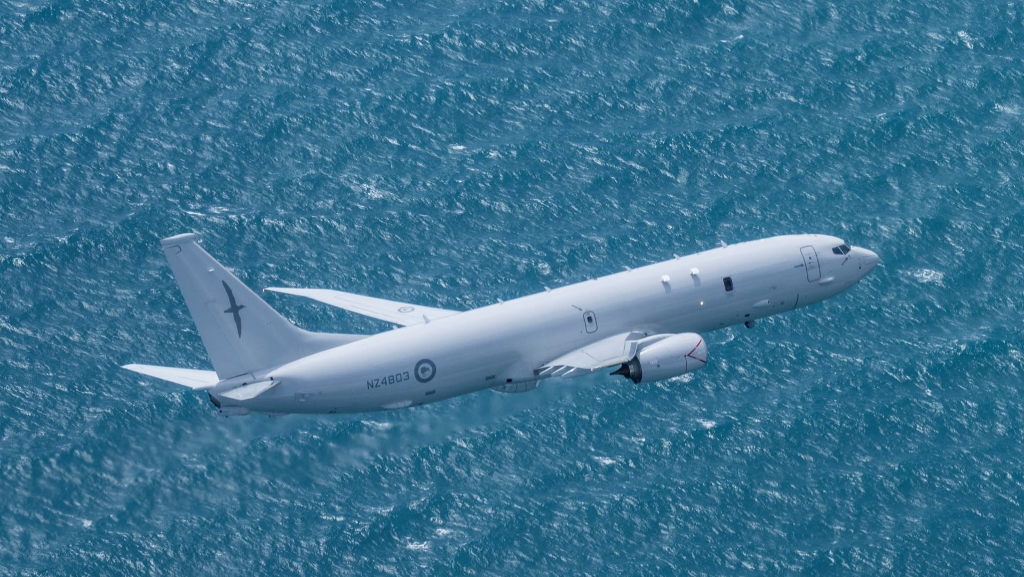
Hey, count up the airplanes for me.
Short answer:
1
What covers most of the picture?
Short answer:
water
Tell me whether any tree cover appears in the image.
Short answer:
No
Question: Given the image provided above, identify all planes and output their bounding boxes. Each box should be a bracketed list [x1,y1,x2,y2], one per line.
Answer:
[122,233,878,418]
